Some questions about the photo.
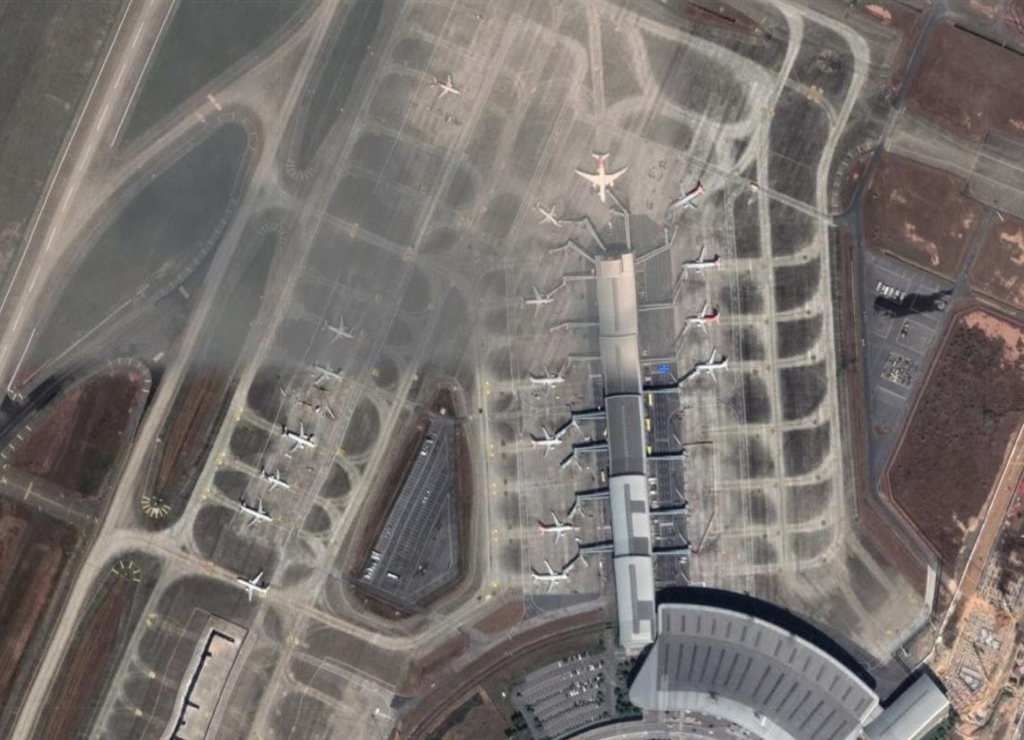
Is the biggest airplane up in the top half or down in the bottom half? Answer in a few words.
top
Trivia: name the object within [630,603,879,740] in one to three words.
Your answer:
building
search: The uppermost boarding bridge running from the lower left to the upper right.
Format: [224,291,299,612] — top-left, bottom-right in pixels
[635,226,678,267]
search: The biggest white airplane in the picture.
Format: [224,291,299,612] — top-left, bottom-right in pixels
[574,149,627,202]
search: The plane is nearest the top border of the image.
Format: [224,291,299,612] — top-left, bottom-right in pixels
[431,76,461,99]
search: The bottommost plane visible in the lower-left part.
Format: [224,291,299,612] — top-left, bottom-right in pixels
[235,569,267,599]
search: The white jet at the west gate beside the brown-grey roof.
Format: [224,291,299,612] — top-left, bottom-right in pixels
[531,364,565,395]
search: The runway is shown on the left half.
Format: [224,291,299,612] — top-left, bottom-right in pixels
[0,0,174,424]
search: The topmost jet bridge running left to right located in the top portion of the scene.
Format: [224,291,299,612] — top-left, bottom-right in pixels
[550,241,598,263]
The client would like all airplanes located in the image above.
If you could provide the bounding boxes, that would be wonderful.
[321,315,354,344]
[538,513,574,544]
[522,287,554,315]
[310,357,343,386]
[532,559,568,592]
[531,427,562,457]
[281,423,315,453]
[431,76,461,99]
[531,364,565,395]
[683,246,720,279]
[239,498,272,527]
[535,202,560,226]
[235,569,267,599]
[574,149,627,202]
[686,301,719,334]
[260,471,290,492]
[696,348,728,381]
